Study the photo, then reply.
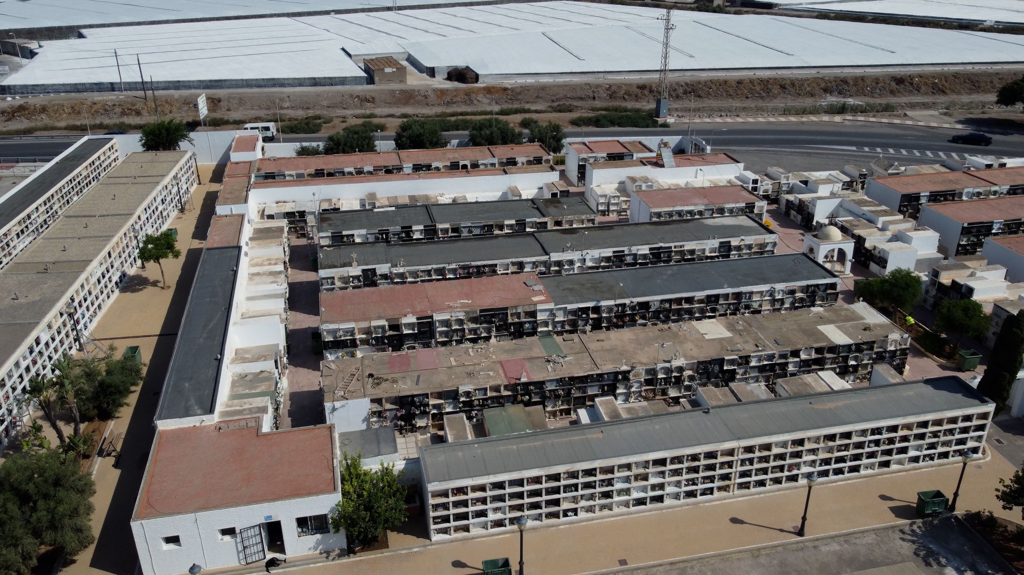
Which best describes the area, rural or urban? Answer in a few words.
urban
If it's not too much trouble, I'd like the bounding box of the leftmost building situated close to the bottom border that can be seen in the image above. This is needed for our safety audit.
[129,417,347,575]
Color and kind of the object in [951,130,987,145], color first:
black car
